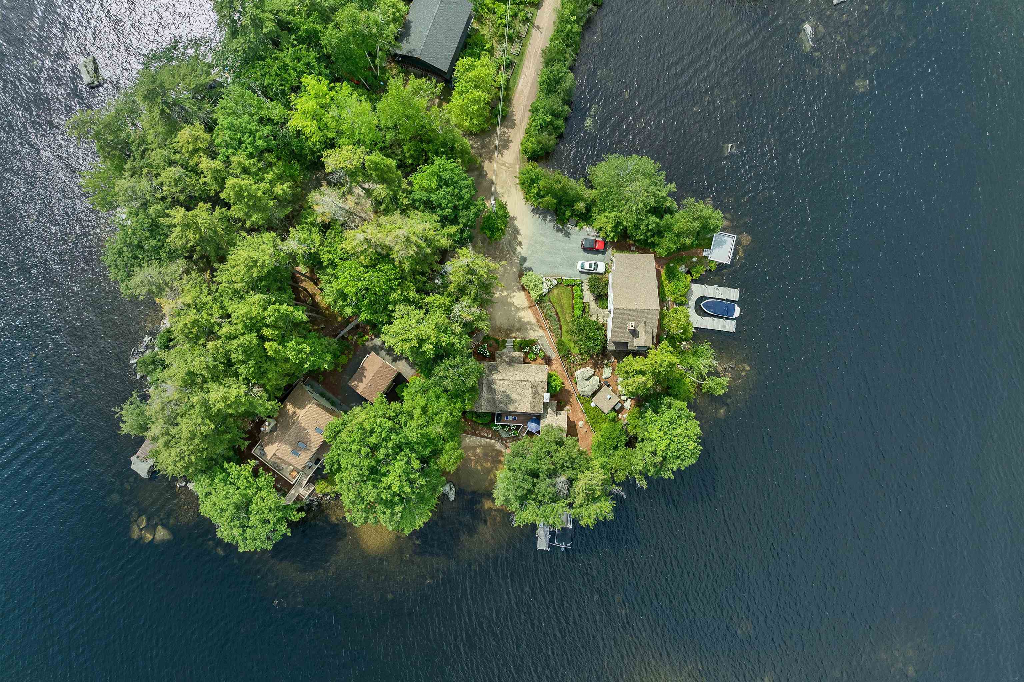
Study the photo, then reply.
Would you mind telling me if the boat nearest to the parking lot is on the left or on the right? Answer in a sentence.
The boat nearest to the parking lot is on the right side of the image.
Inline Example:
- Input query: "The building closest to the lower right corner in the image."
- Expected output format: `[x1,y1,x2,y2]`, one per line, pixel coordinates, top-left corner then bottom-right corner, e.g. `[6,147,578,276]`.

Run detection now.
[591,385,619,414]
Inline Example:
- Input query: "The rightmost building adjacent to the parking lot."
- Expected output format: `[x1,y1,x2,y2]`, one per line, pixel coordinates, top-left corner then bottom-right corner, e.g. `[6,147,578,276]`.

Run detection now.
[606,253,660,350]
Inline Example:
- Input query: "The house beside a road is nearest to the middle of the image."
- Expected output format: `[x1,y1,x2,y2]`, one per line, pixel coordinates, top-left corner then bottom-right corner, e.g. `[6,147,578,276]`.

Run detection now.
[475,350,565,440]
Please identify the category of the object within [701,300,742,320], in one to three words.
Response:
boat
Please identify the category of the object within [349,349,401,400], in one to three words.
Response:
building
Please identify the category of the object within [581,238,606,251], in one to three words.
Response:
vehicle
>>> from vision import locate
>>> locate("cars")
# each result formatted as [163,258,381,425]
[581,238,606,251]
[577,261,605,274]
